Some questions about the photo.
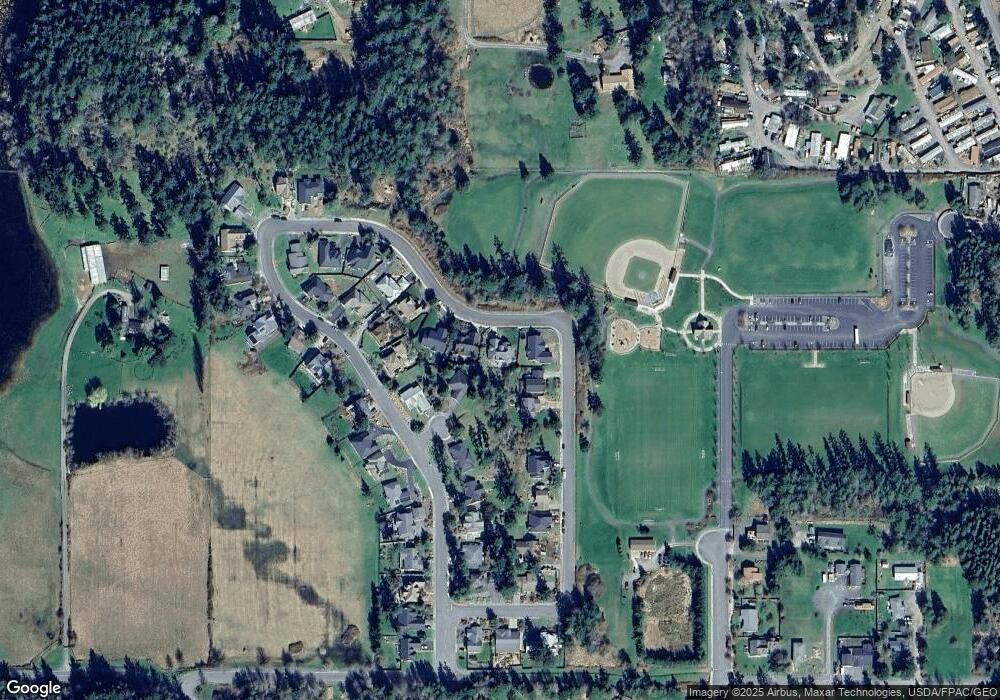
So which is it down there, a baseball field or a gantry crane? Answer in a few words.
baseball field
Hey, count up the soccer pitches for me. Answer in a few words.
3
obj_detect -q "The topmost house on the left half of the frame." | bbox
[289,9,316,30]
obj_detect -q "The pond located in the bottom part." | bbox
[70,397,171,466]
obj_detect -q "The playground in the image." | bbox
[610,319,660,354]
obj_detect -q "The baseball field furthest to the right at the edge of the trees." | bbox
[911,369,999,460]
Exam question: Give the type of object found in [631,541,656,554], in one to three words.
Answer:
building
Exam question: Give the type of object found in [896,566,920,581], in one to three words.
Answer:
barn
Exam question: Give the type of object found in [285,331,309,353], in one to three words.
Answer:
house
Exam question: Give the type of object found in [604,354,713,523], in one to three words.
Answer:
soccer field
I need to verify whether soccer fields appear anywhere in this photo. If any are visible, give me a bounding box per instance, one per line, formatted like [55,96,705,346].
[604,354,713,523]
[741,353,887,446]
[714,185,871,293]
